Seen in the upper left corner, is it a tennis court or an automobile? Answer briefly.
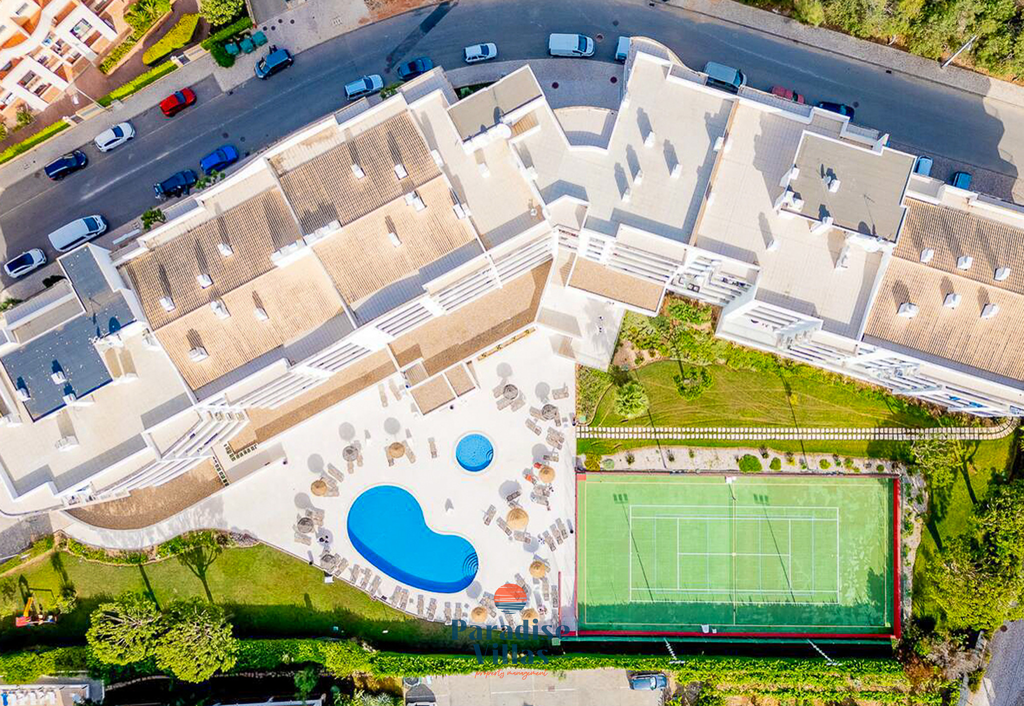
automobile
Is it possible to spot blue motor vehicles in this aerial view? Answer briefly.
Yes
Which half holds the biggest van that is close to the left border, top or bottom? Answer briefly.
top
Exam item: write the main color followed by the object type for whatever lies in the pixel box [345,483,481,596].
blue swimming pool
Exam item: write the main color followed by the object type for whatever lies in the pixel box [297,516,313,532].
gray umbrella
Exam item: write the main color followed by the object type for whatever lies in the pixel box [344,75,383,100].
blue car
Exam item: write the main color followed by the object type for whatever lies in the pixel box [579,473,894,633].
green tennis court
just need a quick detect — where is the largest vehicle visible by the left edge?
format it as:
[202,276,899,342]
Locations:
[49,215,109,254]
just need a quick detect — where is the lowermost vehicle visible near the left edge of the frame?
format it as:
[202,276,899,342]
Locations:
[5,249,48,278]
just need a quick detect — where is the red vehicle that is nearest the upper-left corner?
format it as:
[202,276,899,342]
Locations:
[159,89,197,117]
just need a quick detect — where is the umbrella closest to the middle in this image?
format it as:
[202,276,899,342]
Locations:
[501,385,519,401]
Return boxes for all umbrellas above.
[389,441,405,458]
[506,507,528,529]
[311,478,328,495]
[471,606,488,622]
[529,560,546,577]
[541,404,557,421]
[537,465,555,482]
[297,516,313,532]
[501,385,519,401]
[319,552,336,569]
[342,445,358,462]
